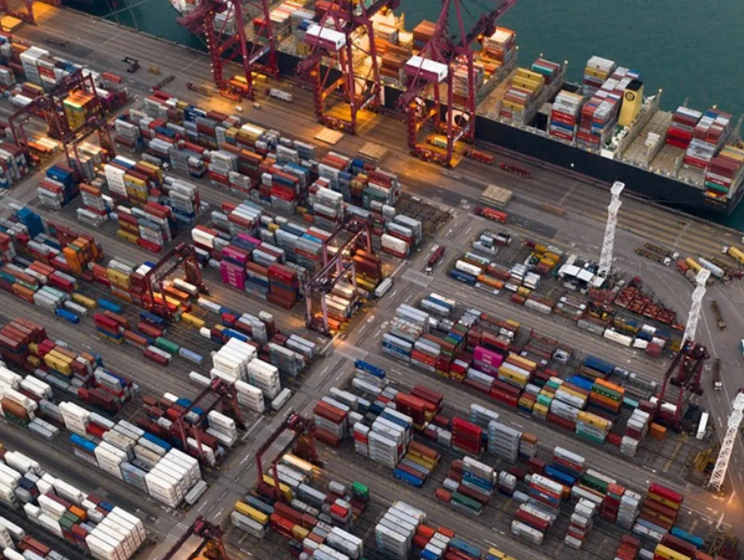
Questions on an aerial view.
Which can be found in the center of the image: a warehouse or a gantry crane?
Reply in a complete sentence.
The one visible in the center of the image is a gantry crane.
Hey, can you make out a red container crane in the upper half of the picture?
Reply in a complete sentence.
Yes, a red container crane shows up in the upper half of the picture.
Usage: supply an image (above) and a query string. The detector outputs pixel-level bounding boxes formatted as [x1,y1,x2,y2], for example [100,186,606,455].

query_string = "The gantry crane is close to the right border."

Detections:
[653,346,711,430]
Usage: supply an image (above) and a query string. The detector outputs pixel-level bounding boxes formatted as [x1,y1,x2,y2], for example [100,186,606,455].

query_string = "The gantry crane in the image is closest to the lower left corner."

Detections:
[162,519,229,560]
